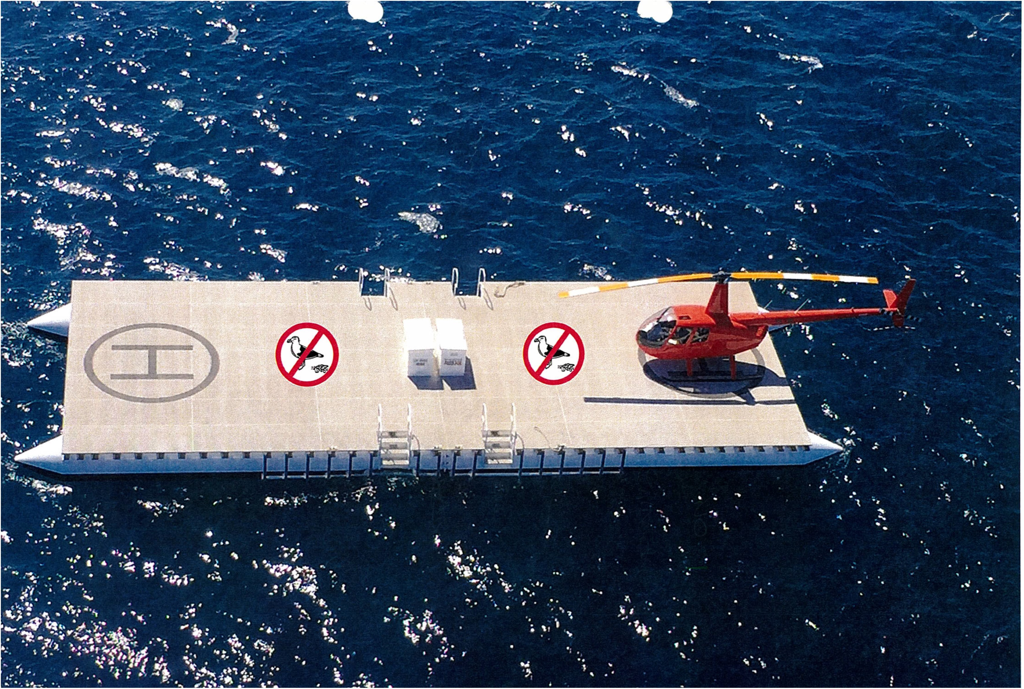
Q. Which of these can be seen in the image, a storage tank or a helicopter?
helicopter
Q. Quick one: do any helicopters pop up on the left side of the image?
No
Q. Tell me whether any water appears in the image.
Yes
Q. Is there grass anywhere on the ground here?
No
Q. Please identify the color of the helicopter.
red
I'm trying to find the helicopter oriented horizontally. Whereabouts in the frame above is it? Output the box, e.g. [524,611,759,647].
[559,272,922,383]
